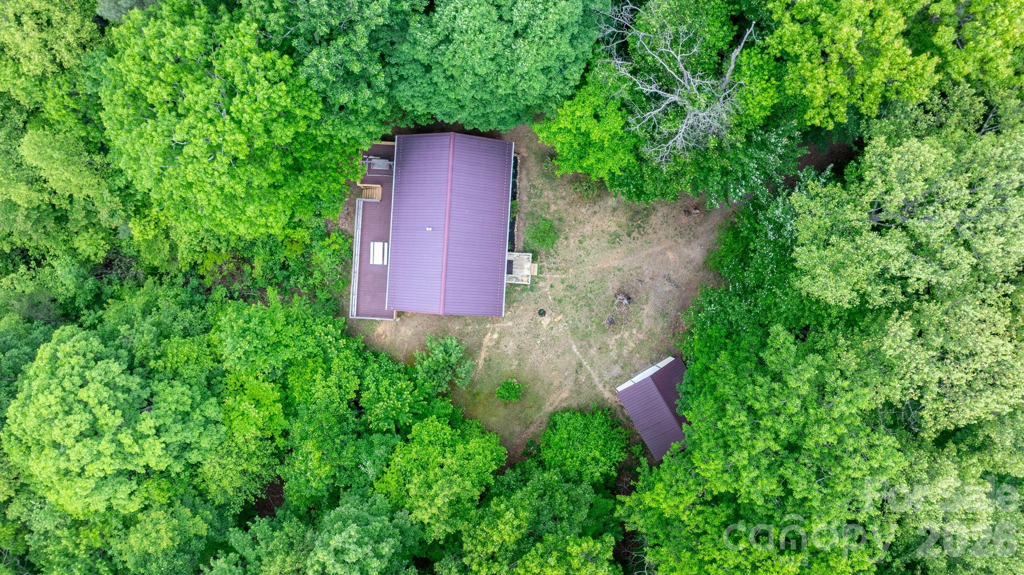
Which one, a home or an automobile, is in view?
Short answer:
home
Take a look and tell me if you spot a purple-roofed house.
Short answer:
Yes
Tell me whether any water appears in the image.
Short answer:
No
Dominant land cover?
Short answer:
trees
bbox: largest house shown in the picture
[384,130,516,317]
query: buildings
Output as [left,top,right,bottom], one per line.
[615,356,708,462]
[384,130,516,317]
